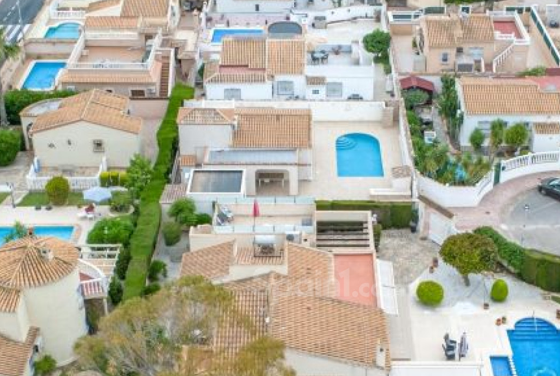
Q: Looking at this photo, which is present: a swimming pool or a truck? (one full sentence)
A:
The one in the frame is a swimming pool.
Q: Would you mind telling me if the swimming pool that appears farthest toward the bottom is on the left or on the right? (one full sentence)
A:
You can find the swimming pool that appears farthest toward the bottom on the right side of the picture.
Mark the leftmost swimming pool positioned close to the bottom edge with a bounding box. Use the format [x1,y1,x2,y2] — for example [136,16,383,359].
[486,353,518,376]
